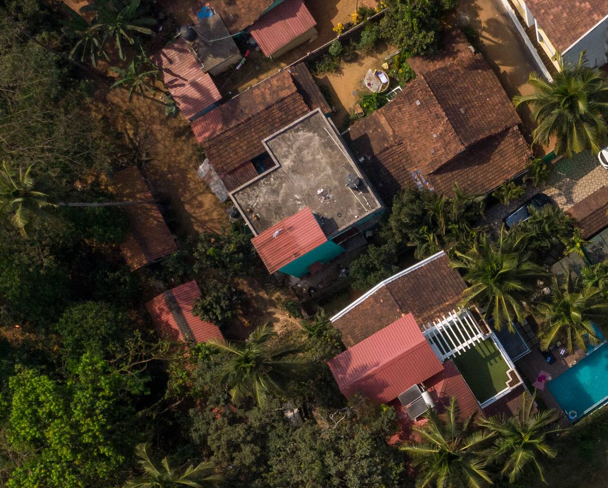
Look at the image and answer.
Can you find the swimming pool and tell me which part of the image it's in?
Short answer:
bottom right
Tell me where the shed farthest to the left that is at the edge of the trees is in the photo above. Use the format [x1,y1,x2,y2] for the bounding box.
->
[110,163,182,271]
